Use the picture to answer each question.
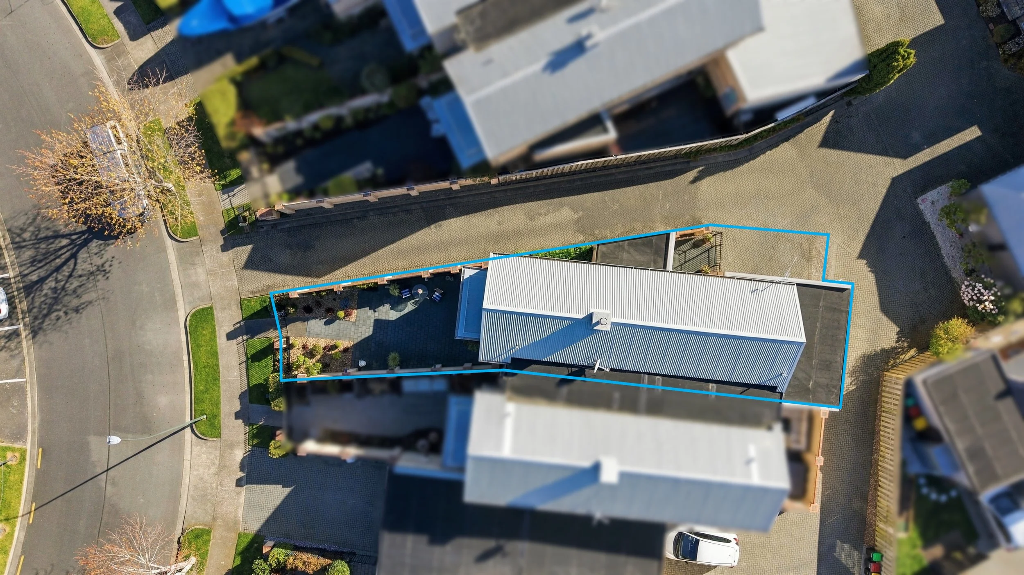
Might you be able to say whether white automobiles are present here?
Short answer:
Yes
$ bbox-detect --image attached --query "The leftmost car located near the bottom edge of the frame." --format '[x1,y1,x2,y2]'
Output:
[666,525,740,571]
